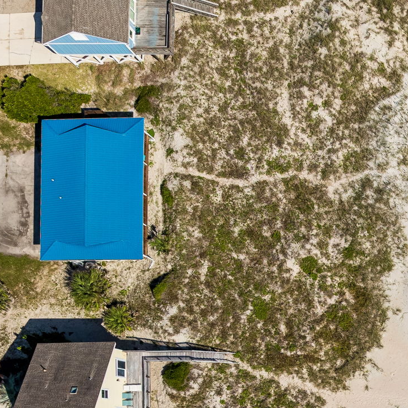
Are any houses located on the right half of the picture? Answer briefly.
No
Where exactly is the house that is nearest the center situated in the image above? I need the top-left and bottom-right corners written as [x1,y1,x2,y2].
[41,118,150,267]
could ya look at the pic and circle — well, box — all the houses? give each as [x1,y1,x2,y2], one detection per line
[12,343,128,408]
[41,118,150,267]
[43,0,142,68]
